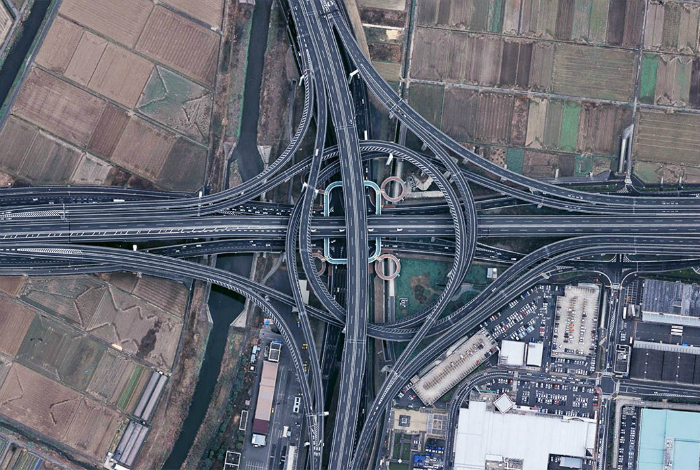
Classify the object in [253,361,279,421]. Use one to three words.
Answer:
building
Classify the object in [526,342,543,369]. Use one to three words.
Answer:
building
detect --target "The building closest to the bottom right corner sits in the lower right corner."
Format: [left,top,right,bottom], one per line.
[636,408,700,470]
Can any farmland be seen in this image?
Yes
